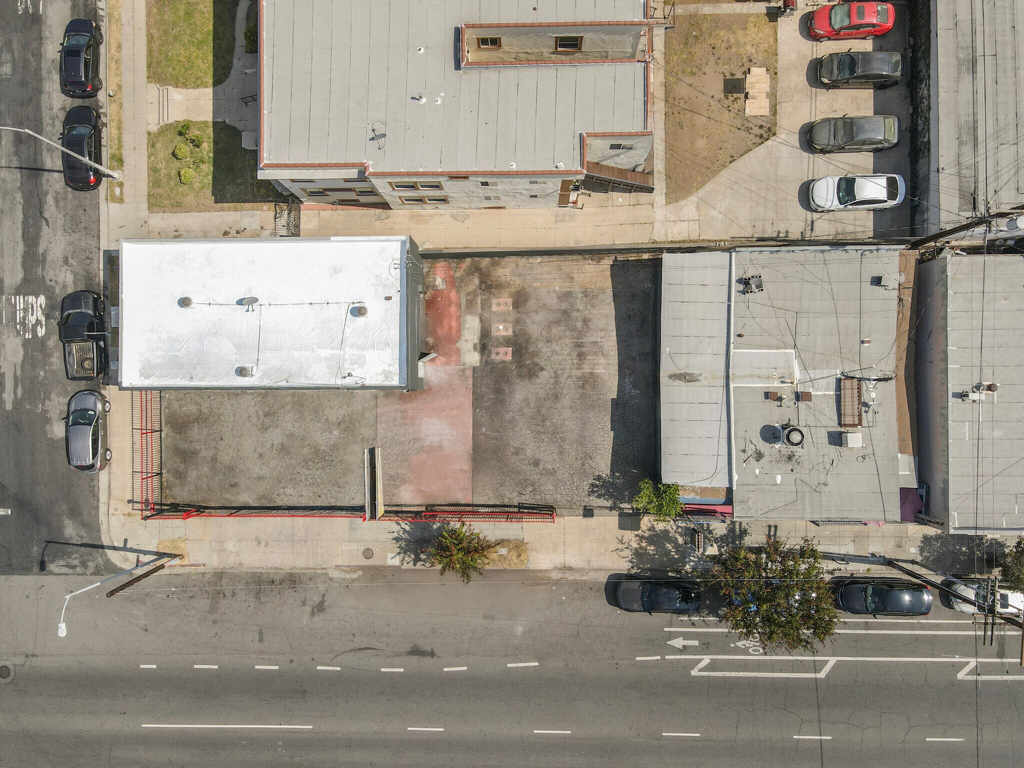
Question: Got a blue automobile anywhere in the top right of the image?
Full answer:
No, there is no blue automobile in the top right of the image.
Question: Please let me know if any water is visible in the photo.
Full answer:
No, there's no water in this view.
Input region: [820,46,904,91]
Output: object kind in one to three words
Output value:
car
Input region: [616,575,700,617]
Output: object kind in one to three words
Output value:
car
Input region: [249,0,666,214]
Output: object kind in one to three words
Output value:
house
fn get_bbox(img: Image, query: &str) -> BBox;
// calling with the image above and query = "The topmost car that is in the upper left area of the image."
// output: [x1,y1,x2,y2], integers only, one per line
[54,21,106,96]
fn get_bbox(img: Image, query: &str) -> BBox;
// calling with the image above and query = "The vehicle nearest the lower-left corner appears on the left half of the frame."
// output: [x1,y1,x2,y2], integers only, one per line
[60,391,113,473]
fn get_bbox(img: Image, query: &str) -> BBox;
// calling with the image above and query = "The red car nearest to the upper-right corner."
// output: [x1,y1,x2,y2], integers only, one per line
[810,0,896,42]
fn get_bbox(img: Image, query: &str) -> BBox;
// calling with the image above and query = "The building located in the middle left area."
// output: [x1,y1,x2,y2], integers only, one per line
[120,238,439,395]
